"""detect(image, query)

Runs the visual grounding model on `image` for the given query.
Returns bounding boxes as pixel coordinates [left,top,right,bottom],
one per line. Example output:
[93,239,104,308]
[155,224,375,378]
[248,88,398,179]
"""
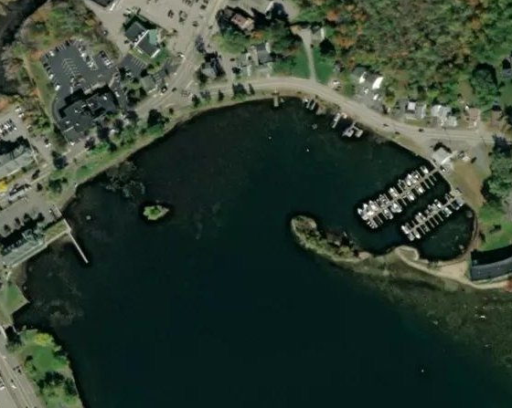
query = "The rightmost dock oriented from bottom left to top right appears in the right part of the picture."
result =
[406,191,461,238]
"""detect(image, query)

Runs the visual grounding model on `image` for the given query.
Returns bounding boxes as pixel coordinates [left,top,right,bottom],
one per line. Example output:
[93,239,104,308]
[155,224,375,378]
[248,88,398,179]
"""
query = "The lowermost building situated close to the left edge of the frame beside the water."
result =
[0,222,54,265]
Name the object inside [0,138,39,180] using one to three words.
building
